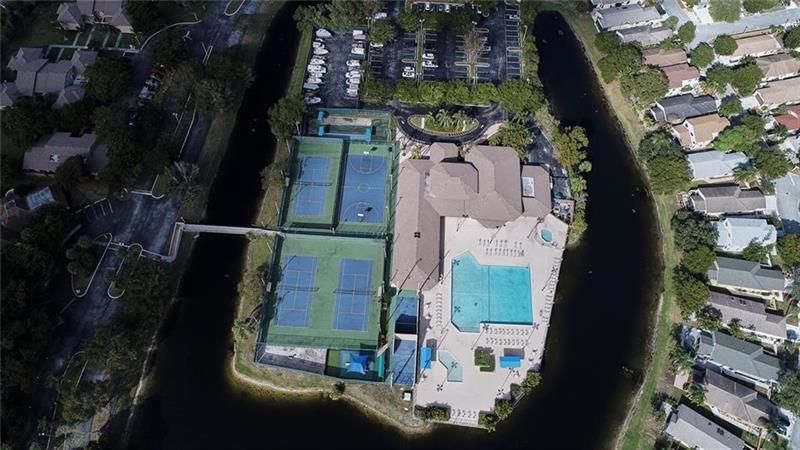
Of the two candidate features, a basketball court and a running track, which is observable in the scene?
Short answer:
basketball court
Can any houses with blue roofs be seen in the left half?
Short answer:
No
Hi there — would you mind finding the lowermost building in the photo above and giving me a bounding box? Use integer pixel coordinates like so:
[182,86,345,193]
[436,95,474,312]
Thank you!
[666,402,755,450]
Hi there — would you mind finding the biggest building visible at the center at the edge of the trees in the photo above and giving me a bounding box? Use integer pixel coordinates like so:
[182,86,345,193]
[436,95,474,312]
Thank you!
[391,142,551,292]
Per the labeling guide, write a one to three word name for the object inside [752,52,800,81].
house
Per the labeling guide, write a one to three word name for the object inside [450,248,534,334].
swimming pool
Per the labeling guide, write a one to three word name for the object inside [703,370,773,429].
house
